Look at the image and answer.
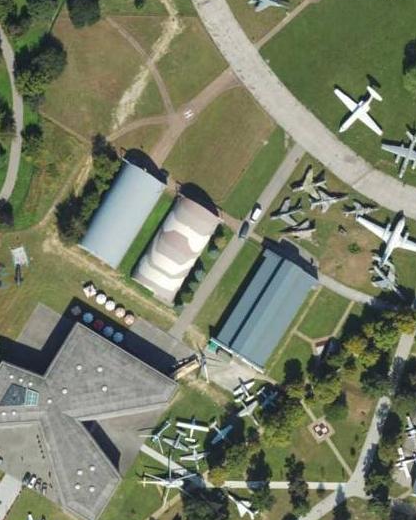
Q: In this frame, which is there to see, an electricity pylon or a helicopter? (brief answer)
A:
helicopter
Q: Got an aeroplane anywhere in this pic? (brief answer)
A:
Yes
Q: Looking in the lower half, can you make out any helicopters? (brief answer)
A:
Yes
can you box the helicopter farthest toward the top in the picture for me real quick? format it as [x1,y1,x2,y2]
[198,346,222,384]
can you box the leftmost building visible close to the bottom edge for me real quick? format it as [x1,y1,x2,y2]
[0,323,178,520]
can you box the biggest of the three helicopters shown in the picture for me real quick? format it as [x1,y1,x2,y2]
[138,452,196,508]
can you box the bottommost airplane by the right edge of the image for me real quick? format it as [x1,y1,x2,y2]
[396,447,416,478]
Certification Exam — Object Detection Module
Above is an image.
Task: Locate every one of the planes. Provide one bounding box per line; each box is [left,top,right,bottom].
[165,431,190,449]
[293,170,327,200]
[344,202,379,222]
[407,415,416,444]
[271,199,306,227]
[257,387,282,412]
[210,422,231,441]
[370,264,401,295]
[238,394,263,427]
[311,192,349,215]
[380,133,416,177]
[282,220,317,241]
[352,216,416,273]
[231,378,255,403]
[331,82,384,136]
[183,445,210,471]
[396,447,416,478]
[257,0,289,12]
[228,494,257,520]
[176,419,209,441]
